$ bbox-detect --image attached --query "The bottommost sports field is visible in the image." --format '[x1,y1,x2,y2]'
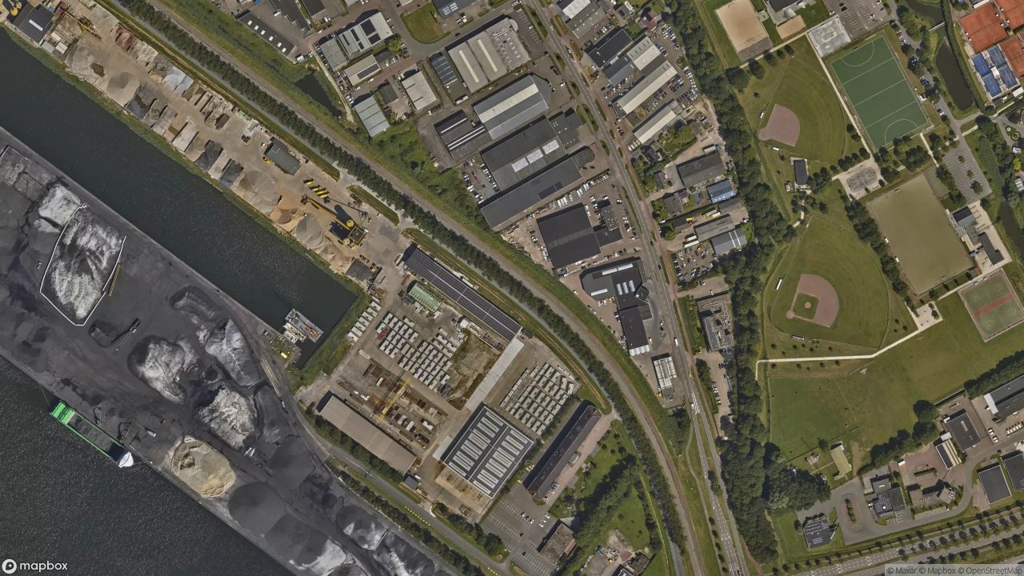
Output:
[769,377,859,463]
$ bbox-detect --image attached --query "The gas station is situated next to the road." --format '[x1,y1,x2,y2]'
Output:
[653,356,677,397]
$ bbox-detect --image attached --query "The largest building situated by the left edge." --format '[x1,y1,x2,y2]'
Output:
[12,3,55,47]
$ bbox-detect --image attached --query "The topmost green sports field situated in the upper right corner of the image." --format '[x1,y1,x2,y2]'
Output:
[827,32,933,153]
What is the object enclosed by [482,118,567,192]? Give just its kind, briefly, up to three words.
building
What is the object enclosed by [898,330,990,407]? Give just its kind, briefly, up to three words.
sports field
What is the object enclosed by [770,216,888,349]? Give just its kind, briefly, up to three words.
baseball field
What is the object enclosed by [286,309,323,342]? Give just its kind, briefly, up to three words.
pier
